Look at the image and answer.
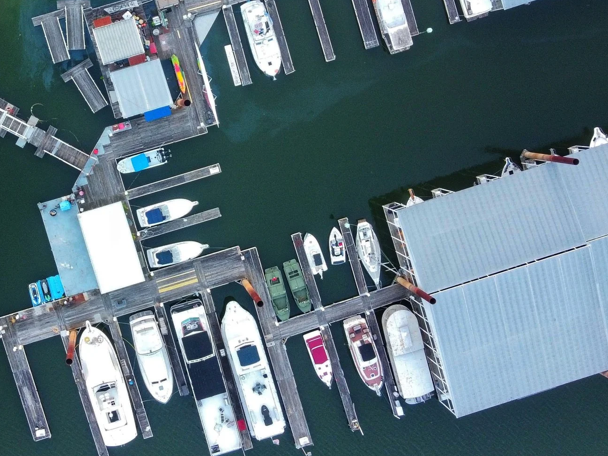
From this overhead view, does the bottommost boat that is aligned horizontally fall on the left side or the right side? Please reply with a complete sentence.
The bottommost boat that is aligned horizontally appears in the left half of the scene.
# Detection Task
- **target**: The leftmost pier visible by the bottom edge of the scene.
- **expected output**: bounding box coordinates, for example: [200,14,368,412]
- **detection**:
[1,338,51,442]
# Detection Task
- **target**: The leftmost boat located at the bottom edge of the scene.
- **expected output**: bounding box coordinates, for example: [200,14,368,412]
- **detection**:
[77,320,137,447]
